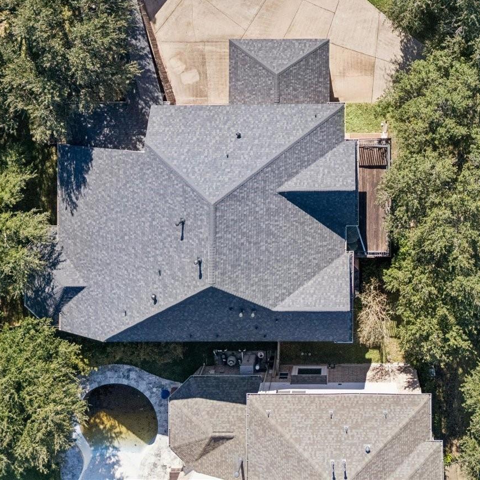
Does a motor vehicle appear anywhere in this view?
No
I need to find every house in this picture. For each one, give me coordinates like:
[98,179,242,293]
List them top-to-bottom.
[22,0,366,343]
[166,360,445,480]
